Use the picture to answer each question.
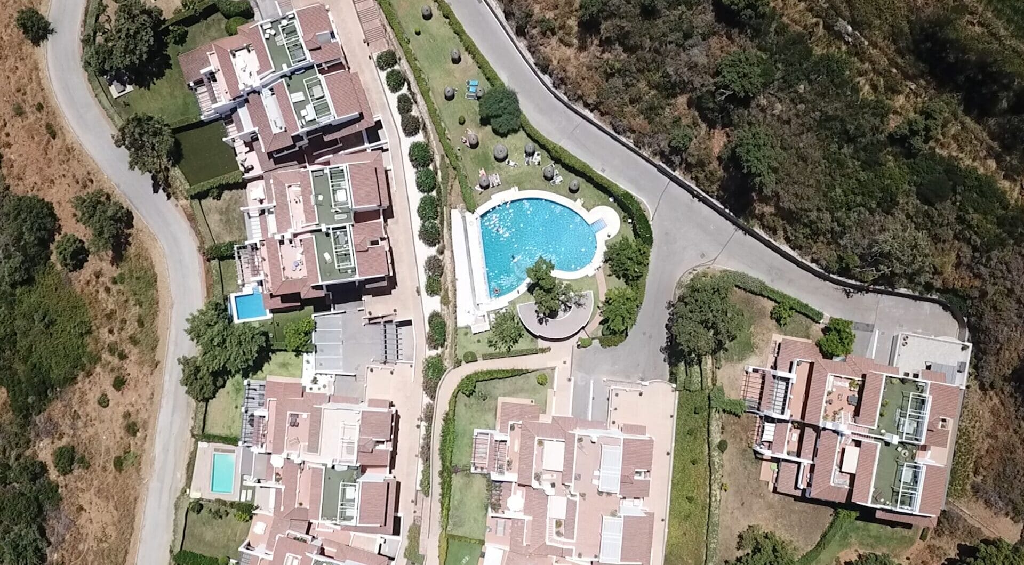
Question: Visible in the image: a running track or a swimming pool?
swimming pool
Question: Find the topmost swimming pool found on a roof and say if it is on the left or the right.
left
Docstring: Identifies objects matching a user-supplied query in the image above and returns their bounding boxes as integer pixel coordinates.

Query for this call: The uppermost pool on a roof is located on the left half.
[235,286,266,319]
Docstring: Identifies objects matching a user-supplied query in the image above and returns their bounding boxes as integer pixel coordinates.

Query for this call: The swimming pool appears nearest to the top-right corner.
[451,188,620,334]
